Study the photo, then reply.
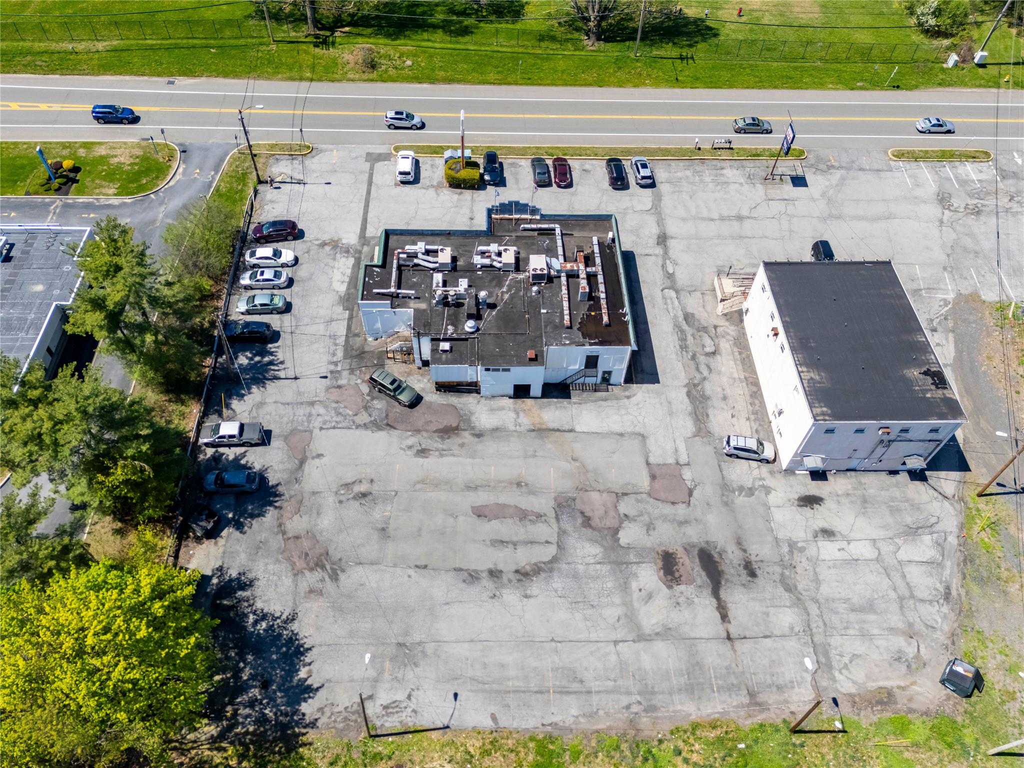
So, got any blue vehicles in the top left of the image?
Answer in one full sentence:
Yes, there is a blue vehicle in the top left of the image.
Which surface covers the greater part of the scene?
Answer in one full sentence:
The largest share of the image is taken up by paved ground.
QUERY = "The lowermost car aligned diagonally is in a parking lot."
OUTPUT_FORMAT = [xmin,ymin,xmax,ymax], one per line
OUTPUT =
[367,366,420,408]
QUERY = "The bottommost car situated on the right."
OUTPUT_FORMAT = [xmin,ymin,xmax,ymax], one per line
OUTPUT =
[724,435,779,464]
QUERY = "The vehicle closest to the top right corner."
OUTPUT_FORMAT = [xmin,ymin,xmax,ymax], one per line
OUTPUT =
[916,117,958,134]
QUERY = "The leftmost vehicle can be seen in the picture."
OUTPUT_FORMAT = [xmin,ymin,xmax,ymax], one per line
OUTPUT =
[90,104,133,124]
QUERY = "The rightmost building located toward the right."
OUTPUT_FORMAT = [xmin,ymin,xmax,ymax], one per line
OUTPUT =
[745,255,967,474]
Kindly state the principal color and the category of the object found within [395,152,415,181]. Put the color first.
white car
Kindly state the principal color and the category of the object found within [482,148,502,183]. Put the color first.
black car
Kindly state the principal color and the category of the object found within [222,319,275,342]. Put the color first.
black car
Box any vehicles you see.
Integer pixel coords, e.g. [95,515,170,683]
[632,157,656,185]
[244,247,293,267]
[196,421,263,448]
[395,152,415,181]
[385,109,422,128]
[734,116,774,133]
[222,319,275,342]
[367,366,420,408]
[234,292,285,314]
[553,156,572,186]
[724,435,779,464]
[806,234,837,257]
[482,148,502,183]
[531,158,550,186]
[90,104,133,124]
[916,117,958,134]
[607,158,628,187]
[250,219,297,241]
[238,267,287,288]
